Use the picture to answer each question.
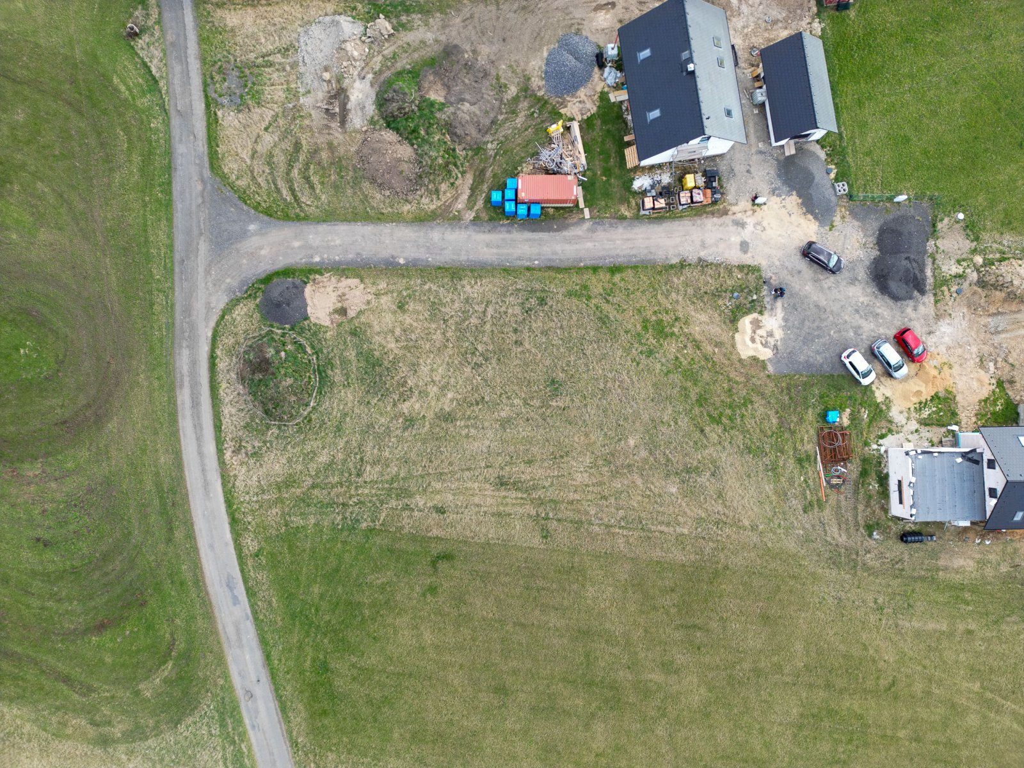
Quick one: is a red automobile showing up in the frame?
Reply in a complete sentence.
Yes, the picture does show a red automobile.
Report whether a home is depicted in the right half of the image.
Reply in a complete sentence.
Yes, a home can be seen in the right half of the image.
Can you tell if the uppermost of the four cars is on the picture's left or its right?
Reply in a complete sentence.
You can find the uppermost of the four cars on the right side of the picture.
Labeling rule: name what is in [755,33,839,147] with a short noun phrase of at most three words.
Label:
building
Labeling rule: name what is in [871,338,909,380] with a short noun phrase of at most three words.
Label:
car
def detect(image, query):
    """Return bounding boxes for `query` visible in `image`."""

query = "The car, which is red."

[894,326,927,363]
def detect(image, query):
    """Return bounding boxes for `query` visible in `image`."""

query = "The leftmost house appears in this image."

[611,0,748,168]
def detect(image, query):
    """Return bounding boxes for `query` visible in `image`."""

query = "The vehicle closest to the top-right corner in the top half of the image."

[802,239,845,274]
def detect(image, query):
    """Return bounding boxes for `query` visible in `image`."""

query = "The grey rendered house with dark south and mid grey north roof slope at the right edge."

[955,425,1024,531]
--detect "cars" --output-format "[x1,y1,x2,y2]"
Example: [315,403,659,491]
[871,338,909,380]
[802,239,845,274]
[894,326,927,363]
[841,347,876,386]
